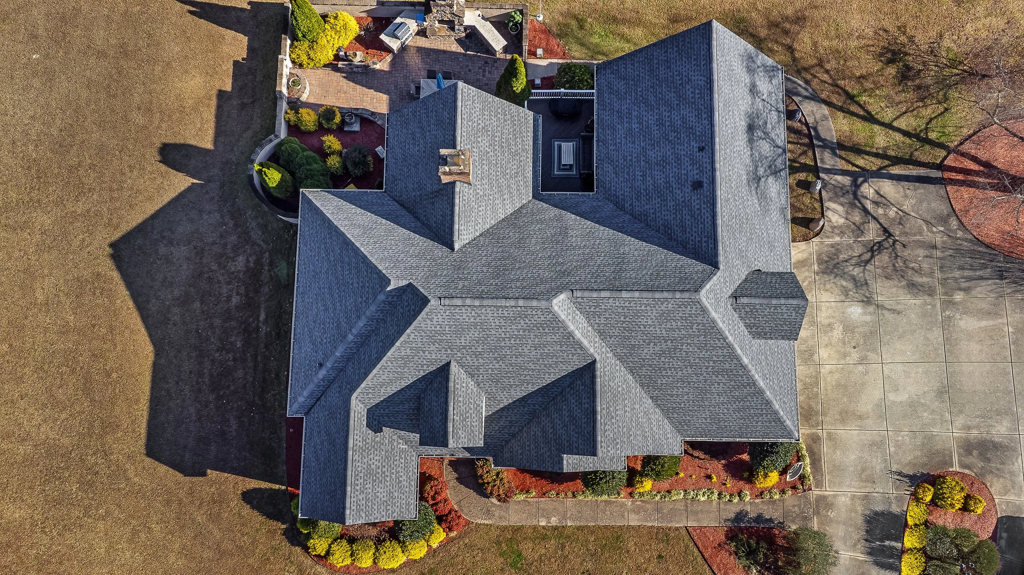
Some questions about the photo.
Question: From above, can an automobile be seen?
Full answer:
No, no automobile can be seen from above.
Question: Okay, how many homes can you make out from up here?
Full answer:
There is 1 home in the image.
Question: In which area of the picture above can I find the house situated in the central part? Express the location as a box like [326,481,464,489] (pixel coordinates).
[287,19,809,527]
